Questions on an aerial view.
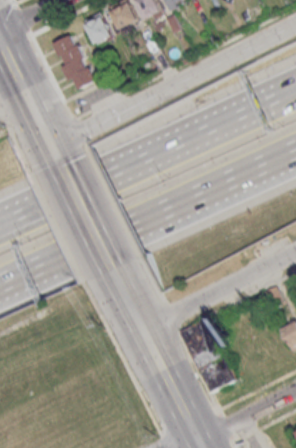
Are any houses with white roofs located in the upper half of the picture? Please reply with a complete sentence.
Yes, looking in the upper half of the picture, one can make out a house with a white roof.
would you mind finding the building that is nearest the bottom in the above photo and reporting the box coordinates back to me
[200,360,238,390]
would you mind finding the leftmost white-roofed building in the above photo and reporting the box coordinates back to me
[86,18,112,44]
